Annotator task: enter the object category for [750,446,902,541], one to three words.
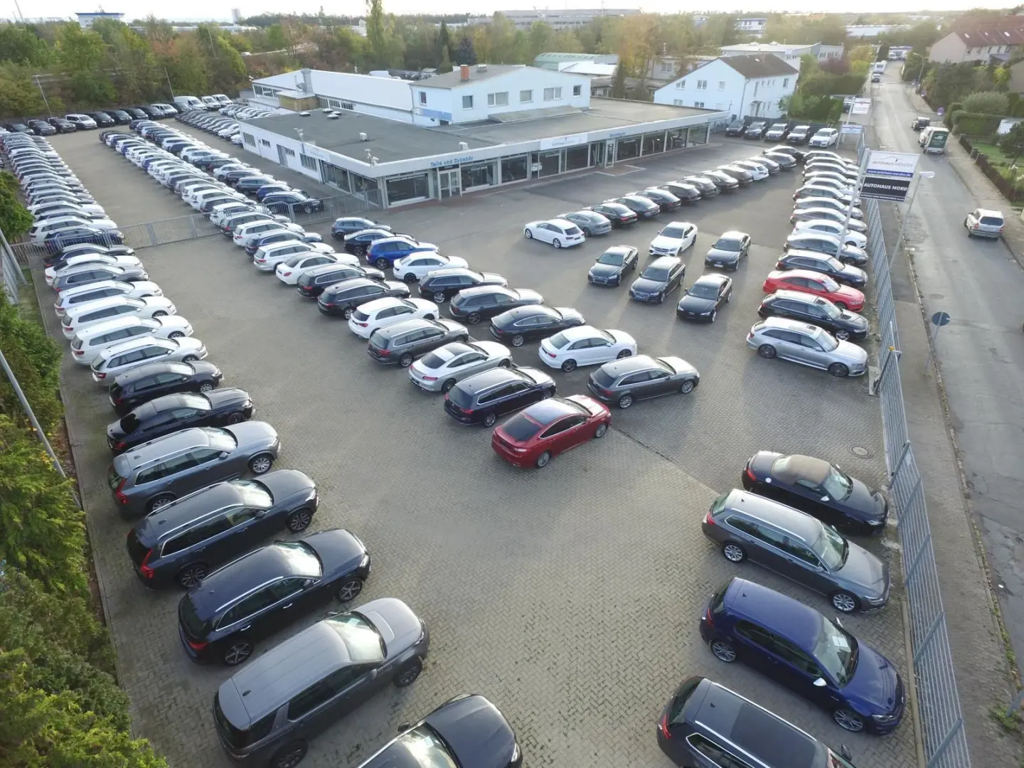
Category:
car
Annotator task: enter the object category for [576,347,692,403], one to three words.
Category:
car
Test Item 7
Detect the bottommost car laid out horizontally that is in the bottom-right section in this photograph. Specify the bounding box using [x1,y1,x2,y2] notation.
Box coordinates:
[652,675,853,768]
